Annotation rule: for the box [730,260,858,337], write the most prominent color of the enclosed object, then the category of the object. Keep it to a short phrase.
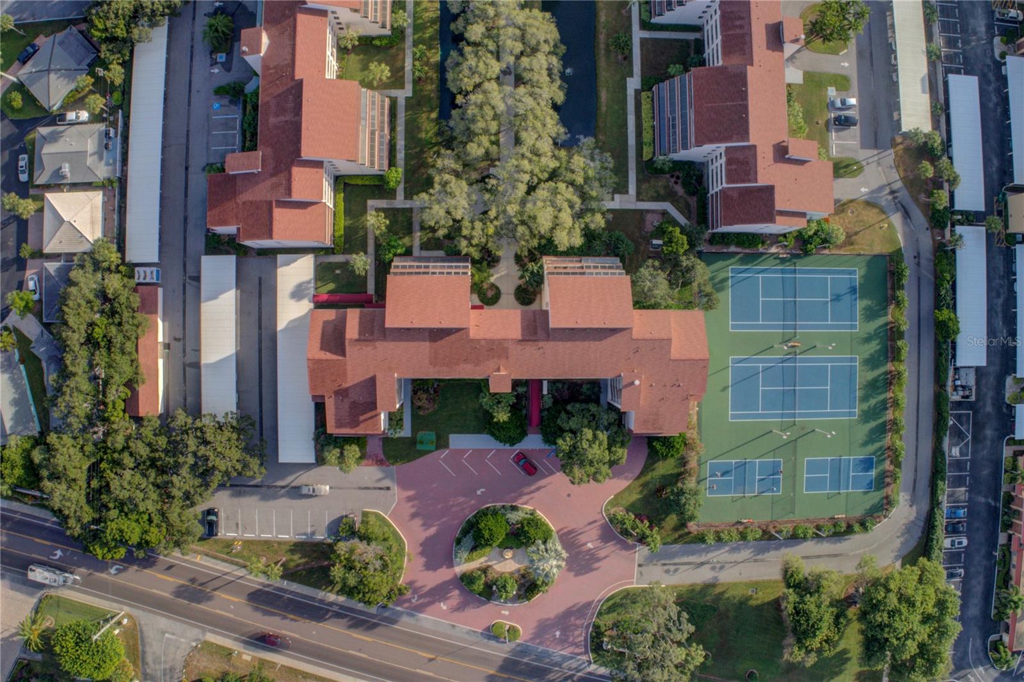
blue tennis court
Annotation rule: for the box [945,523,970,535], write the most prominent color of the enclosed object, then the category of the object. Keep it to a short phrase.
black vehicle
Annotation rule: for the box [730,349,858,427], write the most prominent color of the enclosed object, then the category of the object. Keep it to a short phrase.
blue tennis court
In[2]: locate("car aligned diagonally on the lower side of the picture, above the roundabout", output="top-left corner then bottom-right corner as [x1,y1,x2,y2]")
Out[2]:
[512,451,538,477]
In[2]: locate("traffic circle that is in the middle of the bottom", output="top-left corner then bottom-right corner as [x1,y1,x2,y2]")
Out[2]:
[454,505,560,604]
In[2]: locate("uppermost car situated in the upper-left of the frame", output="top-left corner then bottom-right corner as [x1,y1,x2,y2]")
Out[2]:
[12,38,38,66]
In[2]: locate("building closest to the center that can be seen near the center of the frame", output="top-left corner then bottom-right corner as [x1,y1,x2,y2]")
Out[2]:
[307,257,709,436]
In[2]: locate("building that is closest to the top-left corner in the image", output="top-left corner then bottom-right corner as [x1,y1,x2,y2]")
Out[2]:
[17,25,104,112]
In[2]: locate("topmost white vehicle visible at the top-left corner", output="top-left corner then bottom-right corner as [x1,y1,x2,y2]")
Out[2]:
[54,108,87,121]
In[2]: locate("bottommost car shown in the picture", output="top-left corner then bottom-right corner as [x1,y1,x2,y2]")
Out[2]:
[258,633,287,650]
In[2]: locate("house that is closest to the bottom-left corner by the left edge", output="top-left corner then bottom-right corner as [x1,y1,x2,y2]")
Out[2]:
[0,335,48,444]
